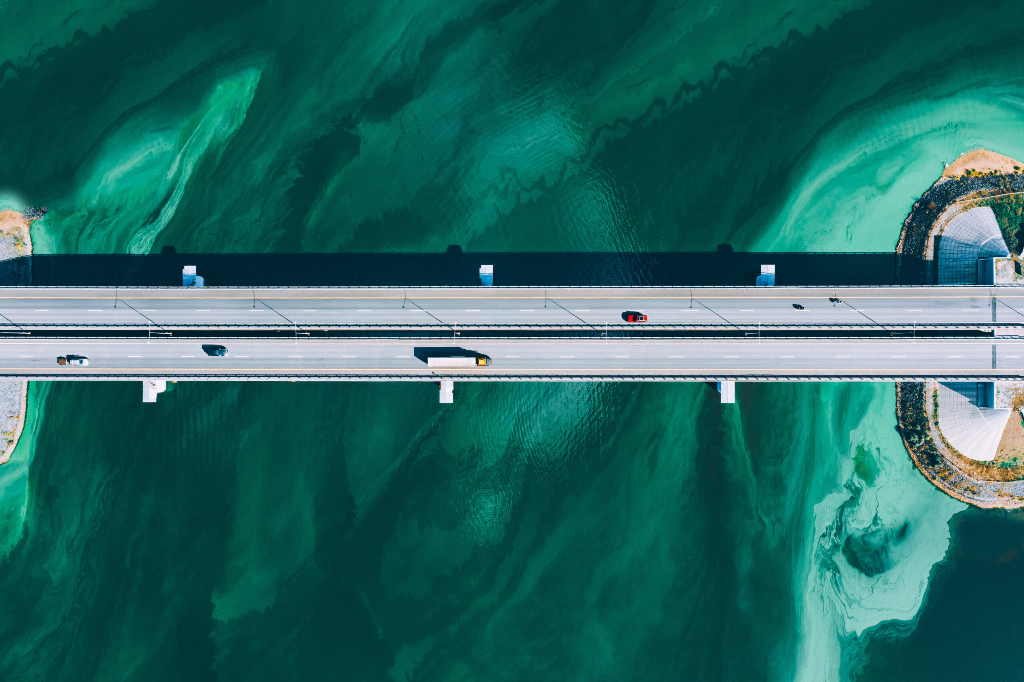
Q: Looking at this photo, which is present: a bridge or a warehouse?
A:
bridge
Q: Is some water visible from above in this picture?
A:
Yes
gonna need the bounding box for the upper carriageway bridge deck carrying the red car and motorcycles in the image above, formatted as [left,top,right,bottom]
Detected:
[0,285,1024,330]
